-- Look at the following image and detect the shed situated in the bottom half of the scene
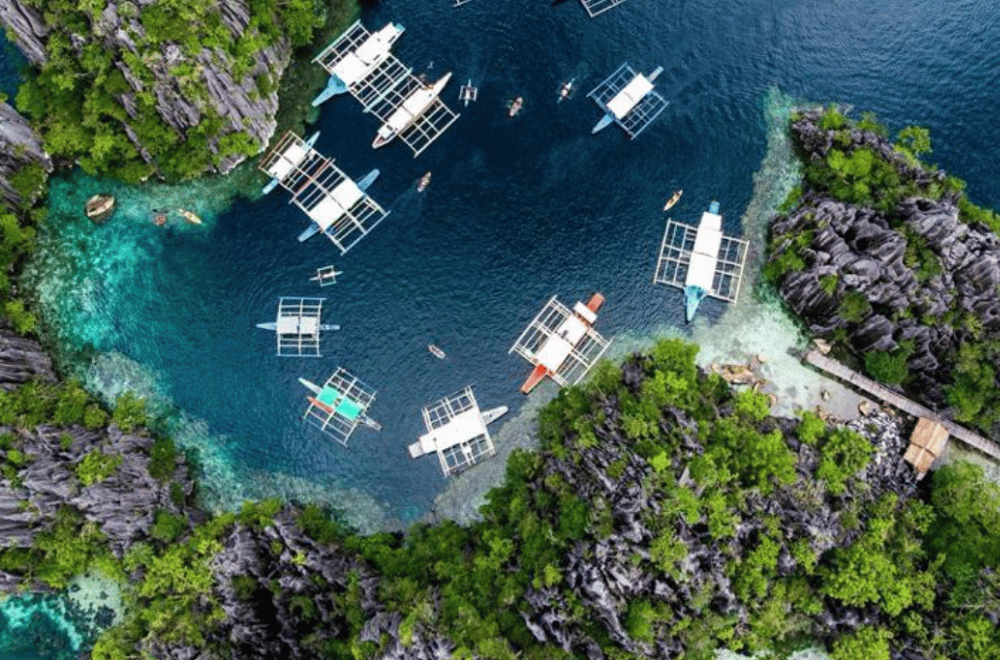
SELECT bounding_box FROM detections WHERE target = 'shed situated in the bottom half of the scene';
[900,415,949,467]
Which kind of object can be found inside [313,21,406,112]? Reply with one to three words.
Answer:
boat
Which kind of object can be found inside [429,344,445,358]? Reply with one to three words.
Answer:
boat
